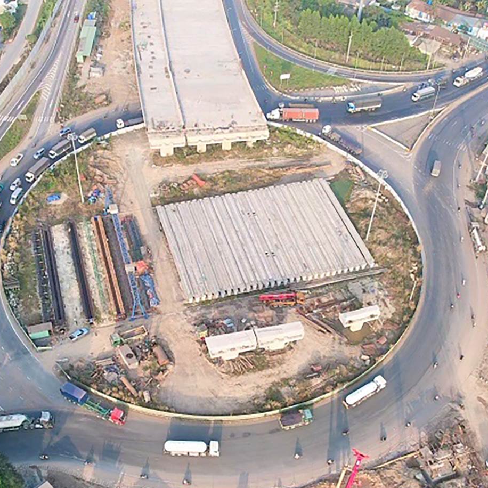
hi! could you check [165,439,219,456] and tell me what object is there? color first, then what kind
white vehicle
